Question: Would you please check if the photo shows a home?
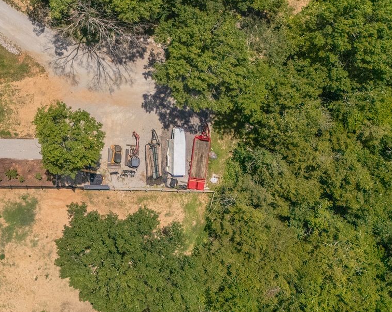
No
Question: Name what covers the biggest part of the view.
trees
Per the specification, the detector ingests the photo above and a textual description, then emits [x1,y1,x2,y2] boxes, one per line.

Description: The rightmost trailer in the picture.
[186,122,211,190]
